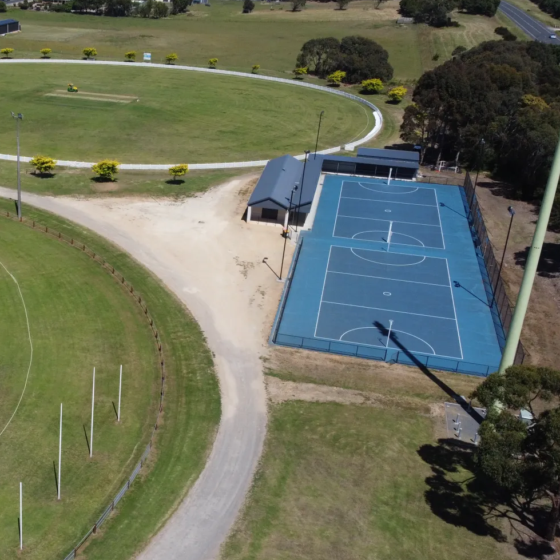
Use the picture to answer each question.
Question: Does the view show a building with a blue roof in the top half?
Yes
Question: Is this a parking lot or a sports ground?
sports ground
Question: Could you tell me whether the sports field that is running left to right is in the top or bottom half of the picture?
top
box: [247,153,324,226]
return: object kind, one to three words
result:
building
